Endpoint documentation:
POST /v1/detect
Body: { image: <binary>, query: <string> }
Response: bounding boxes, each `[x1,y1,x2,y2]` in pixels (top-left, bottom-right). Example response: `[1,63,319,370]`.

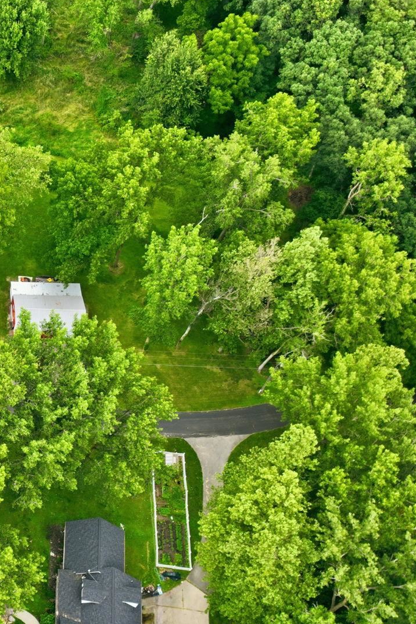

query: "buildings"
[51,518,146,624]
[8,282,88,329]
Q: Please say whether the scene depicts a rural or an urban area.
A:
rural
